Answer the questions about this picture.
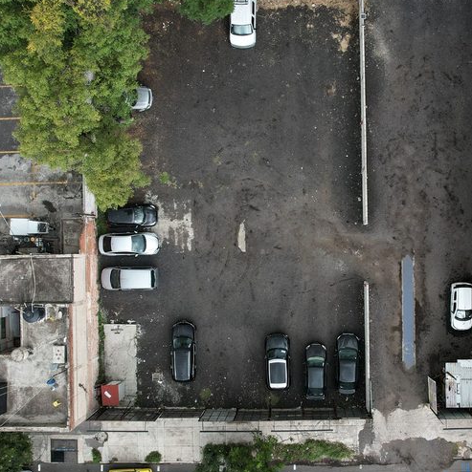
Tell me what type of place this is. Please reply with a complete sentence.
This image shows a parking lot.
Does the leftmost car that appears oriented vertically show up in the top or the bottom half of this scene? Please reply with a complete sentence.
The bottom half of the photo is where the leftmost car that appears oriented vertically is.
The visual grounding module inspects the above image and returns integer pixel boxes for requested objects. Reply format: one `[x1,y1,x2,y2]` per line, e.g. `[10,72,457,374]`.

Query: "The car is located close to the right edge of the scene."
[448,281,472,332]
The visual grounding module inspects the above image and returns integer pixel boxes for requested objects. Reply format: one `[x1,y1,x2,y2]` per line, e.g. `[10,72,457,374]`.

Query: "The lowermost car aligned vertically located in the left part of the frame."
[167,320,198,384]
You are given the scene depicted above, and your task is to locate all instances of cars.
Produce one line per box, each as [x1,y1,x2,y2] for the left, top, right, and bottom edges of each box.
[335,332,361,395]
[448,281,472,332]
[108,465,154,472]
[303,341,329,399]
[263,332,291,391]
[167,320,198,384]
[101,264,160,293]
[98,230,162,258]
[105,202,160,230]
[227,0,257,50]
